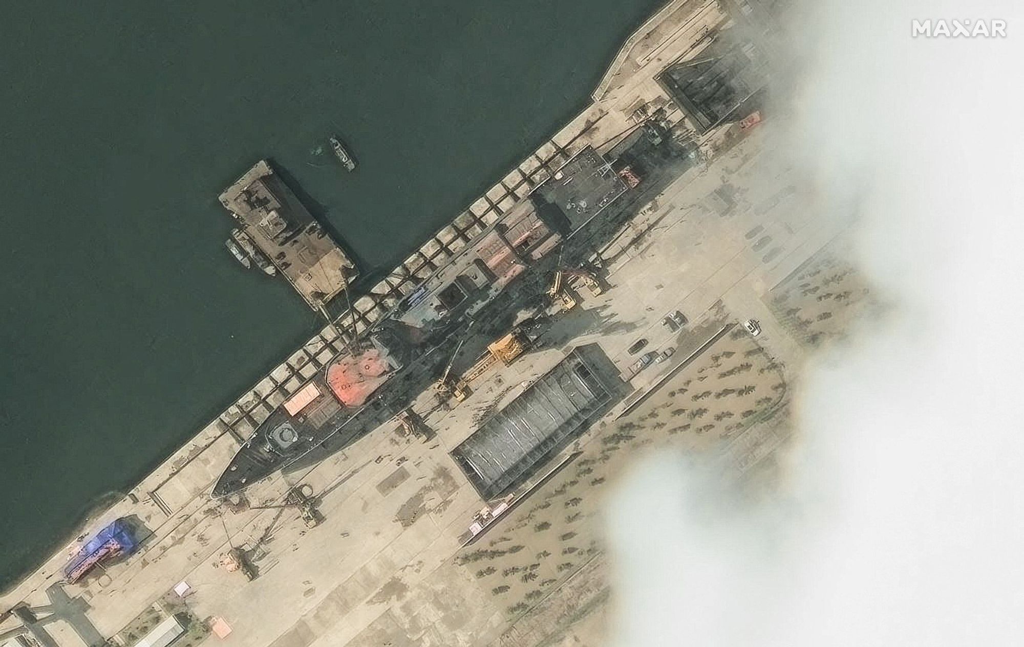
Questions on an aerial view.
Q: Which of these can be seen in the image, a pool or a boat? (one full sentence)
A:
The image shows a boat.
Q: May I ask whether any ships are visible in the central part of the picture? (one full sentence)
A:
Yes, a ship appears in the central part of the picture.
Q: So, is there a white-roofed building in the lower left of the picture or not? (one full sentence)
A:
Yes, you'll find a white-roofed building in the lower left of the picture.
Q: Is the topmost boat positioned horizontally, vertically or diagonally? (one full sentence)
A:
What the image shows is the topmost boat lying diagonally.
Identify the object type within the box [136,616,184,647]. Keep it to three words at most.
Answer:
building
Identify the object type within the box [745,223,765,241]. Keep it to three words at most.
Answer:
vehicle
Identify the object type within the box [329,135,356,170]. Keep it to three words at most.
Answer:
boat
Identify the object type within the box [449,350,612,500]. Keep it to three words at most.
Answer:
building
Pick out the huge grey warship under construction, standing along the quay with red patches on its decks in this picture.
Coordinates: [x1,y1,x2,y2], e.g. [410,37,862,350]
[211,144,627,498]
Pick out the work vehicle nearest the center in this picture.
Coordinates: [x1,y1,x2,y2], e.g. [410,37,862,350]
[556,284,578,311]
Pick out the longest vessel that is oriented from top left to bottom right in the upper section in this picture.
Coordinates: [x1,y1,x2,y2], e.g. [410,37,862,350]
[218,159,360,357]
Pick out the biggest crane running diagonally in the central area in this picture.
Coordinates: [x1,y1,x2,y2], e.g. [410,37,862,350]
[457,333,531,391]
